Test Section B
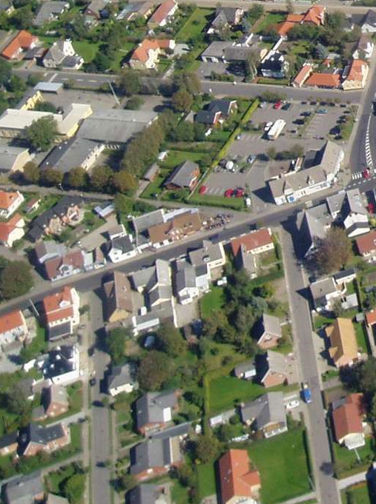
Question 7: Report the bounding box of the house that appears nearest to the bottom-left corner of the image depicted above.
[6,465,46,504]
